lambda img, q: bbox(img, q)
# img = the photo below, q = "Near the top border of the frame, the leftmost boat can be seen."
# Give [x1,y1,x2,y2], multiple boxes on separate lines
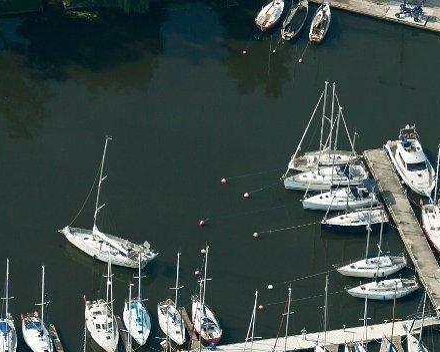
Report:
[252,0,285,34]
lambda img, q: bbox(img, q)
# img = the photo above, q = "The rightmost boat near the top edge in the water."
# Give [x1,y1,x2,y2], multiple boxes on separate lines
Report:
[309,0,330,46]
